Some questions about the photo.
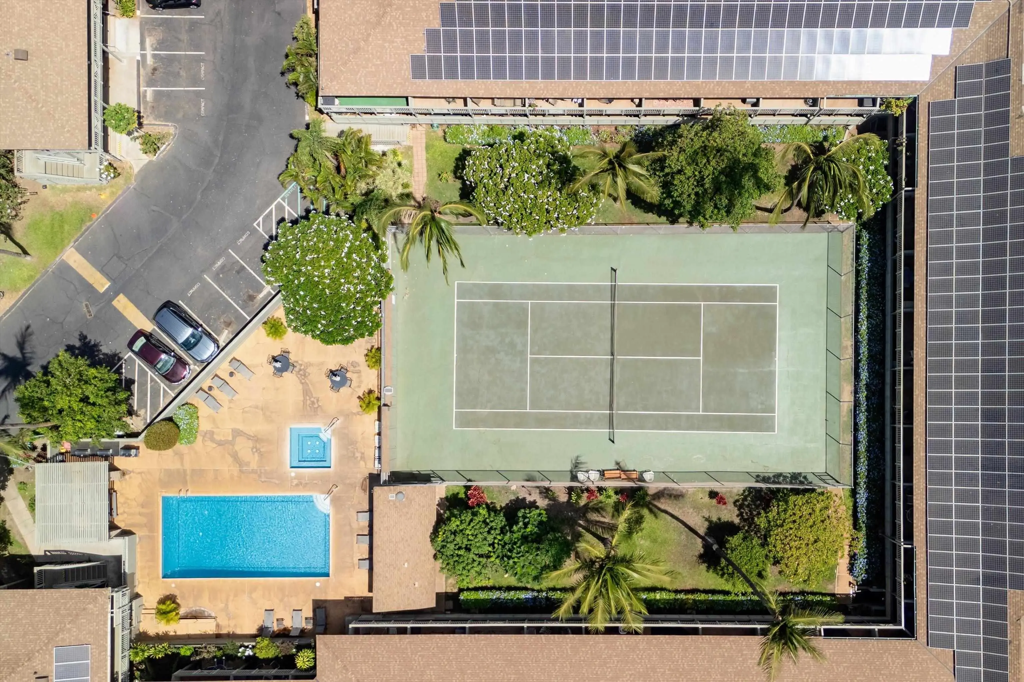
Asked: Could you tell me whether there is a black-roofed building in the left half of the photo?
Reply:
No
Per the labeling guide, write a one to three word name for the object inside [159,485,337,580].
swimming pool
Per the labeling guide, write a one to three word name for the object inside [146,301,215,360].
car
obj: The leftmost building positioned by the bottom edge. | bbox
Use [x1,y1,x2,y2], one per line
[0,560,135,682]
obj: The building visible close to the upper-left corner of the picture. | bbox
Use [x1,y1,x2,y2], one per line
[0,0,127,186]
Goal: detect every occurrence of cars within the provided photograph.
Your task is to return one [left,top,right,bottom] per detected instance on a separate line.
[146,301,215,360]
[121,328,187,383]
[143,0,201,10]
